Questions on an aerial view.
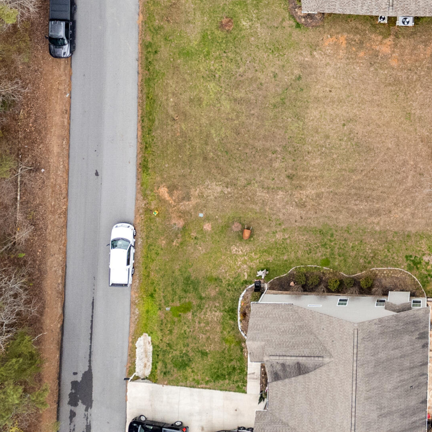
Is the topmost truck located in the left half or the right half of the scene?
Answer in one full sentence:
The topmost truck appears in the left half of the scene.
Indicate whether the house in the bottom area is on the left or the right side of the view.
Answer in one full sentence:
The house in the bottom area is on the right side of the image.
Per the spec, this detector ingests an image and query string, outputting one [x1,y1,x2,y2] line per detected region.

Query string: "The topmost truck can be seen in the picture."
[46,0,78,60]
